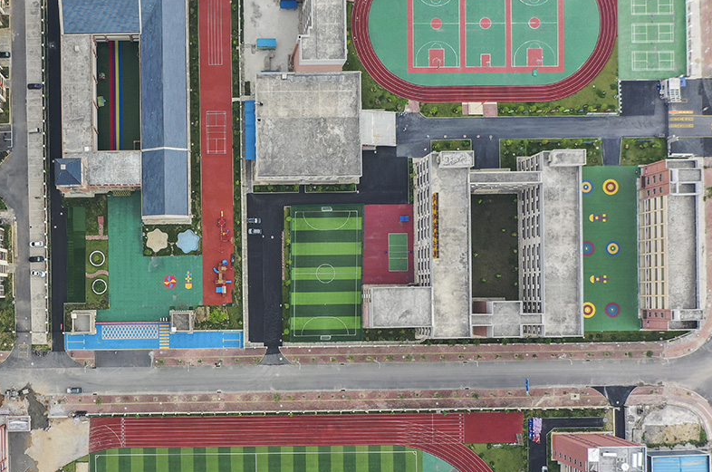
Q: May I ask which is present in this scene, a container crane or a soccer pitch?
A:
soccer pitch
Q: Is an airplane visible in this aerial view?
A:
No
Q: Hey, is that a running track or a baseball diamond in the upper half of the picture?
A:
running track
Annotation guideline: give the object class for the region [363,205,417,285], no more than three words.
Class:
sports court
